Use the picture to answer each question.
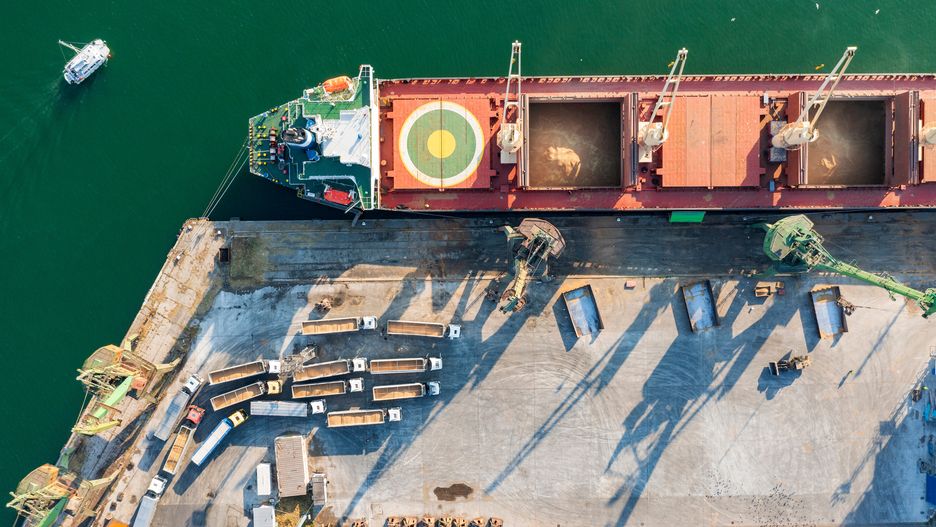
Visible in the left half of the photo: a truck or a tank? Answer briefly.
truck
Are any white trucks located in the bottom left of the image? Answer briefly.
Yes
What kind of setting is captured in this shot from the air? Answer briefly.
port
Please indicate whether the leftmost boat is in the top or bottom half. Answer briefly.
top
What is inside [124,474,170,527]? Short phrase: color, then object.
white truck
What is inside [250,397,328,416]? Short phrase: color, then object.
white vehicle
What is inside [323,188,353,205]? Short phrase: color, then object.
red boat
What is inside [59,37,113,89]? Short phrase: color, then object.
white boat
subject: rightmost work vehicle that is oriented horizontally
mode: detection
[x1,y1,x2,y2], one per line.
[771,353,814,376]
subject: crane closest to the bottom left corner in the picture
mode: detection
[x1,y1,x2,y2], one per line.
[3,448,122,527]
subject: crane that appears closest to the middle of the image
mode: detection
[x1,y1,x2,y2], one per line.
[498,217,569,317]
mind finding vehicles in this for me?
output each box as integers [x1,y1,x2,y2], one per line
[250,397,328,416]
[327,404,403,426]
[372,379,441,401]
[387,319,461,339]
[771,353,814,376]
[124,474,170,527]
[292,375,365,399]
[209,377,284,411]
[301,314,378,333]
[207,357,285,385]
[370,354,442,374]
[190,407,250,466]
[152,374,207,441]
[162,404,208,475]
[292,355,368,382]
